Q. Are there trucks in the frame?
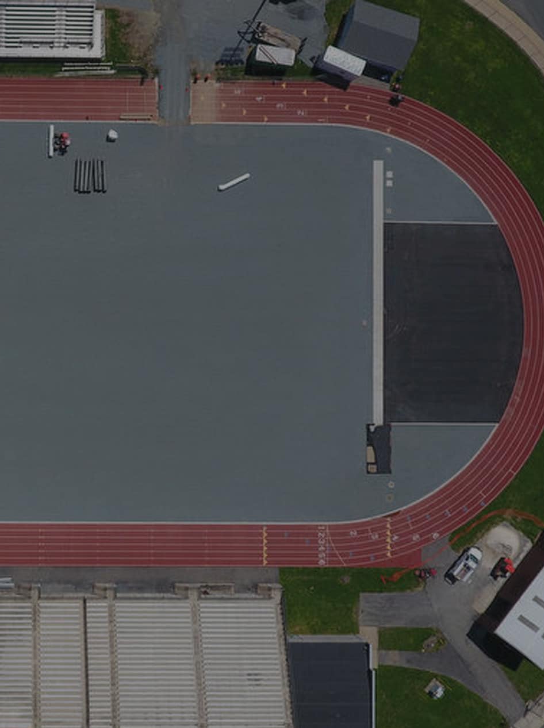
Yes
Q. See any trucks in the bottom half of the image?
Yes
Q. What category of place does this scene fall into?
sports ground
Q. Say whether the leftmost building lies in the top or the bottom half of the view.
bottom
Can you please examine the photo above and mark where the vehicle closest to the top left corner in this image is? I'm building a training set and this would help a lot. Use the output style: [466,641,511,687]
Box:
[53,134,71,149]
